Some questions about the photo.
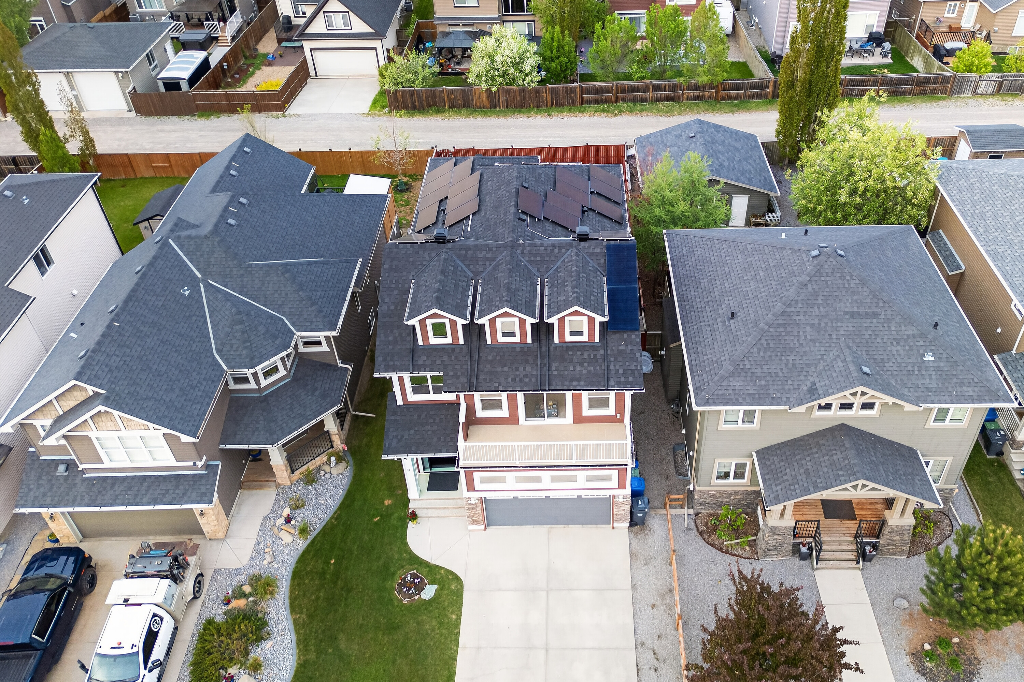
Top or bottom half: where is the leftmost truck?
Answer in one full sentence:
The leftmost truck sits in the bottom half of the picture.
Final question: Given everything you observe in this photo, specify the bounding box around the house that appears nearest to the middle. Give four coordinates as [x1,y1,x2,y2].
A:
[374,156,644,531]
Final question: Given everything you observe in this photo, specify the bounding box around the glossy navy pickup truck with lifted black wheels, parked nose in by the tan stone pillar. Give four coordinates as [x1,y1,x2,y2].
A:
[0,549,97,682]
